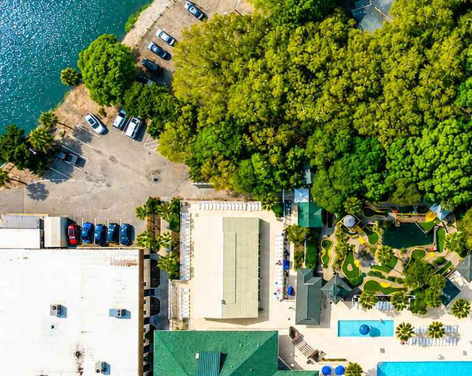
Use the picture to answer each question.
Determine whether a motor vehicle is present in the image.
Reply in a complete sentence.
Yes, looking at the shot, I can spot a motor vehicle.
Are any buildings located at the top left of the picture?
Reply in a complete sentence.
No, I see no building at the top left of the picture.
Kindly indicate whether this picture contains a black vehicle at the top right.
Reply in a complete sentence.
No, looking at the top right, there is no black vehicle.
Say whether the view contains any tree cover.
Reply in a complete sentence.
Yes, some tree cover is visible.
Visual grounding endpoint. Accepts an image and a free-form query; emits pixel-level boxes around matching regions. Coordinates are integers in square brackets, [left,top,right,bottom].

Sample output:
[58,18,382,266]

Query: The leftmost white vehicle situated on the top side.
[86,113,104,134]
